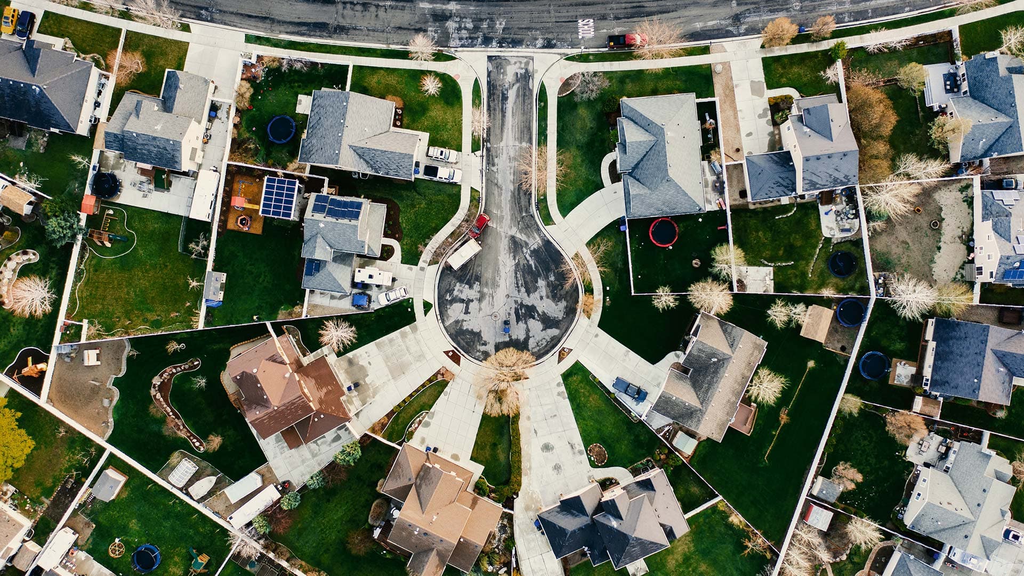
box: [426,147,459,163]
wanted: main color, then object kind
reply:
white car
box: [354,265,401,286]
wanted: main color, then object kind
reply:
white trailer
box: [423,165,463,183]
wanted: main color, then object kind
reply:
white vehicle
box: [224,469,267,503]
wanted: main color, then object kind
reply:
white trailer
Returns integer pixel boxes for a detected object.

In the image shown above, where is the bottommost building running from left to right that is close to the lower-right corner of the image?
[879,548,948,576]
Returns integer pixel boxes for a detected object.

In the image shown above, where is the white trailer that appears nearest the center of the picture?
[445,237,486,272]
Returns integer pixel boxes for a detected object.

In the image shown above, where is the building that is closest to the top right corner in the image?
[934,53,1024,164]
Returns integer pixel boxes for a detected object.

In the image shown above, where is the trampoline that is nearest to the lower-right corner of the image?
[858,351,889,381]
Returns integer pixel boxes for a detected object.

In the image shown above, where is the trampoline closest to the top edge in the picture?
[267,115,296,144]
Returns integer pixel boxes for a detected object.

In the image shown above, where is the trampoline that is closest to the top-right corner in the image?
[828,249,863,279]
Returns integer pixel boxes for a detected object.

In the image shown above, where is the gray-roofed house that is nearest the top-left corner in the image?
[0,38,102,134]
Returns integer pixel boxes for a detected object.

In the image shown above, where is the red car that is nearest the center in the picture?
[469,212,491,240]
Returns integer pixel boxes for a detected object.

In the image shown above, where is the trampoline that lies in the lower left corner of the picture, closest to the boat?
[126,543,162,576]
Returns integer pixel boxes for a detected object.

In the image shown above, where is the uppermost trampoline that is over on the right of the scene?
[648,217,679,247]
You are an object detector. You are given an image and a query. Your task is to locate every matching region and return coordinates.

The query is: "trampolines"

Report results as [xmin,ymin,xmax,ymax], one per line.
[648,217,679,247]
[858,351,889,381]
[834,298,866,328]
[828,249,863,279]
[126,543,162,576]
[267,115,296,144]
[84,168,123,200]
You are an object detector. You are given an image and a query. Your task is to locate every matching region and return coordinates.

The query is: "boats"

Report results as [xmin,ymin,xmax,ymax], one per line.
[186,478,217,502]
